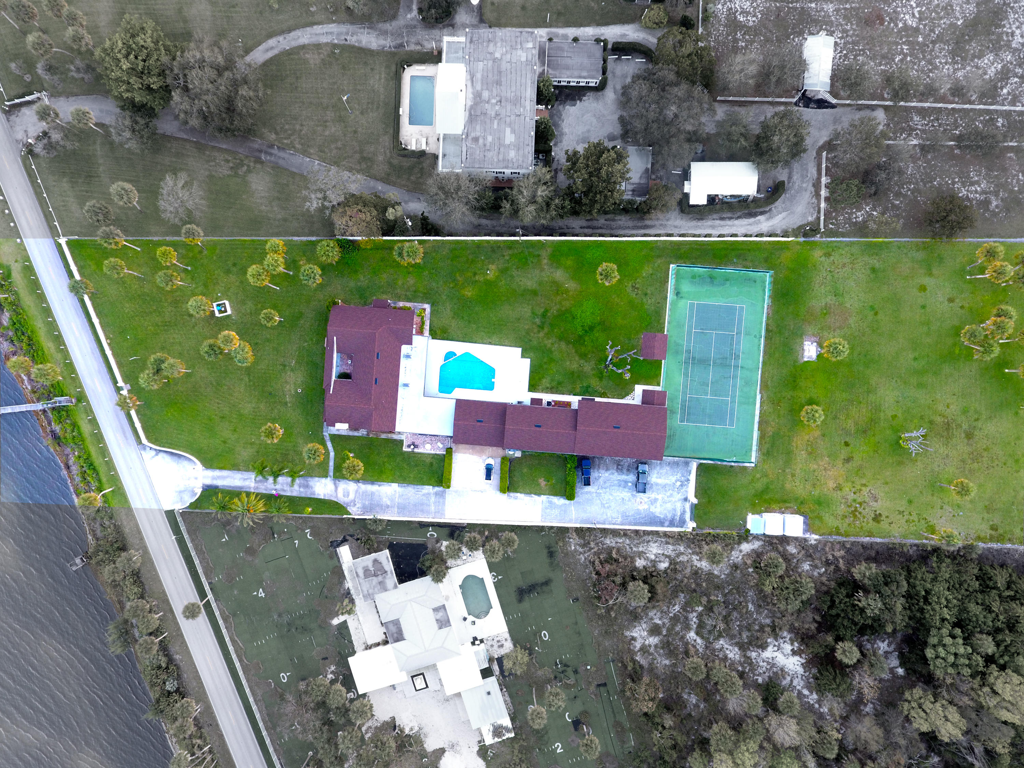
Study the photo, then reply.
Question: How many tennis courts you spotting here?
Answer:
1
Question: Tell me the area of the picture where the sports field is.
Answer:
bottom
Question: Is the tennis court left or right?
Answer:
right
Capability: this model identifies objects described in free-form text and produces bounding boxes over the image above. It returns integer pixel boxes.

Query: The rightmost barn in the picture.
[799,30,834,95]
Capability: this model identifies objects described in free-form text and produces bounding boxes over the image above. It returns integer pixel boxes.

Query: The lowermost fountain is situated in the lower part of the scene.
[411,672,429,692]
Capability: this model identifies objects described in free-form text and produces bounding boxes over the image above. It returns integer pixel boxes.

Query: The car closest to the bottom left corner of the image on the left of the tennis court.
[483,458,495,482]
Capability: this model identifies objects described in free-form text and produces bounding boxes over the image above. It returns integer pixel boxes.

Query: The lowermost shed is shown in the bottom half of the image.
[461,674,515,746]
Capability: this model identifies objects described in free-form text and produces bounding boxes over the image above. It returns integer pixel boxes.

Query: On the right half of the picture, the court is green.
[660,264,774,467]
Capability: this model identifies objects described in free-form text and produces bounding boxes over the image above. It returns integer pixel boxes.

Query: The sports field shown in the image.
[198,521,632,768]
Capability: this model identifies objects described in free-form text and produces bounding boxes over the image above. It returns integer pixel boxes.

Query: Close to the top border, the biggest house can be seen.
[436,28,539,189]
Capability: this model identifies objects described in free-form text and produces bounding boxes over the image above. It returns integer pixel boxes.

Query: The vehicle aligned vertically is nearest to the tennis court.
[636,462,650,494]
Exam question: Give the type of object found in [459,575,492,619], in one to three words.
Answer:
swimming pool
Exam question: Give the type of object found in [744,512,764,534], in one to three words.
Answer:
shed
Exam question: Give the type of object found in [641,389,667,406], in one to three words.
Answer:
building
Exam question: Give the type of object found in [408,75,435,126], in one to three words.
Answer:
swimming pool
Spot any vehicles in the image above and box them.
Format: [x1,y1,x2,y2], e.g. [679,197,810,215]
[483,458,495,482]
[636,462,650,494]
[581,459,592,487]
